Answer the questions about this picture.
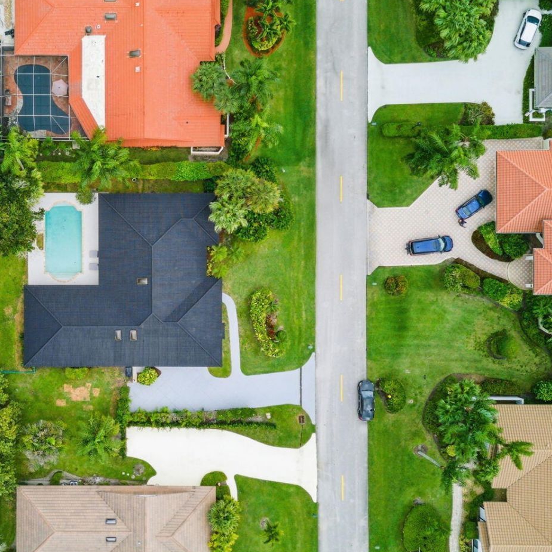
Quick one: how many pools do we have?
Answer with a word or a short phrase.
2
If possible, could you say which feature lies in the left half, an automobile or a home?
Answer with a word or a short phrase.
home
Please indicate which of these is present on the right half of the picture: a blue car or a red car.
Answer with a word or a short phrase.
blue car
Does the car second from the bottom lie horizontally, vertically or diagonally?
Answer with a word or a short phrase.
horizontally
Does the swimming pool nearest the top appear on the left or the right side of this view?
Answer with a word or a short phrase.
left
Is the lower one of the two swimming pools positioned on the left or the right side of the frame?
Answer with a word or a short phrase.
left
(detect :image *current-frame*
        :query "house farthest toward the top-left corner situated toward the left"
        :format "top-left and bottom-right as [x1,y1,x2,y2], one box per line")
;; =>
[13,0,226,148]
